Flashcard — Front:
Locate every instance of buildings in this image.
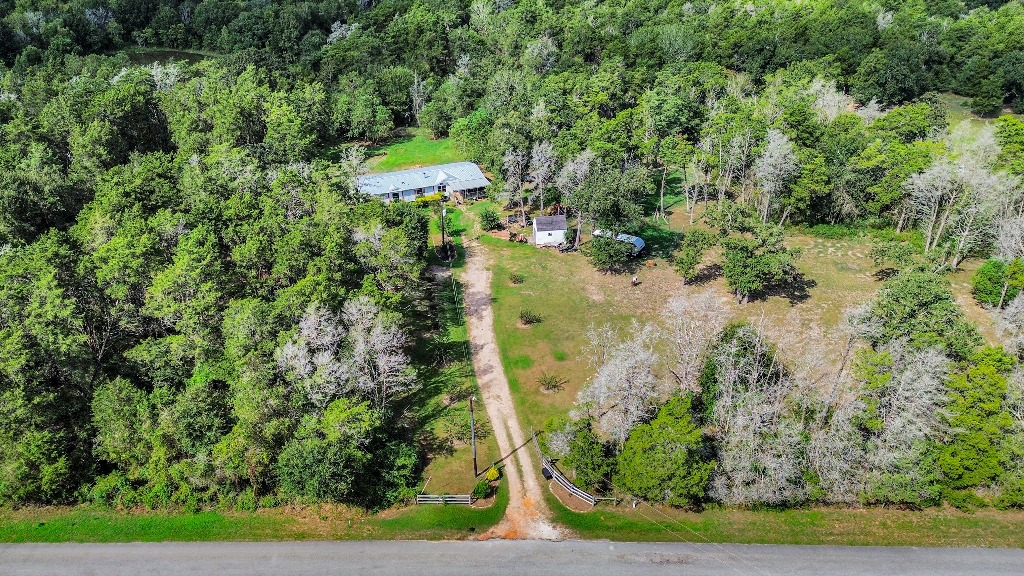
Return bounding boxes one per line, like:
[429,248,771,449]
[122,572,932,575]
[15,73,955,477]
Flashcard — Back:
[357,161,491,209]
[525,214,568,246]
